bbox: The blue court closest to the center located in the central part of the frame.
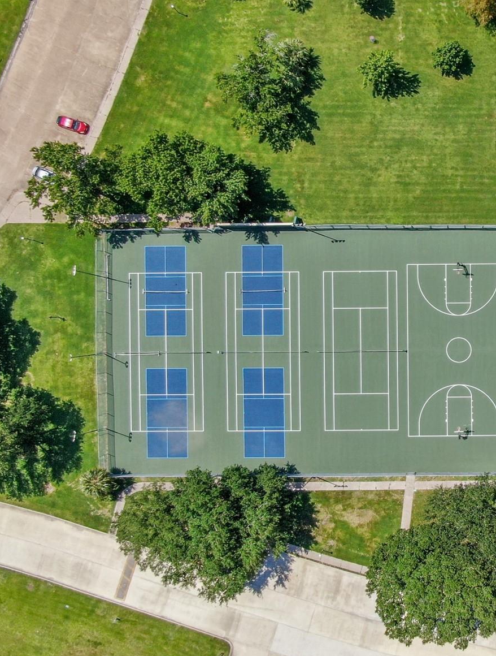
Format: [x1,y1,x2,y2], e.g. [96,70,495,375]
[242,245,284,336]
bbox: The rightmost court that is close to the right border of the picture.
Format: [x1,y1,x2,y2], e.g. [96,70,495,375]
[407,264,496,437]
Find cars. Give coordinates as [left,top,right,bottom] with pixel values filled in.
[53,112,88,133]
[28,164,59,183]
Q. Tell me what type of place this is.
sports ground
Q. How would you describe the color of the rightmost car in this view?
red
